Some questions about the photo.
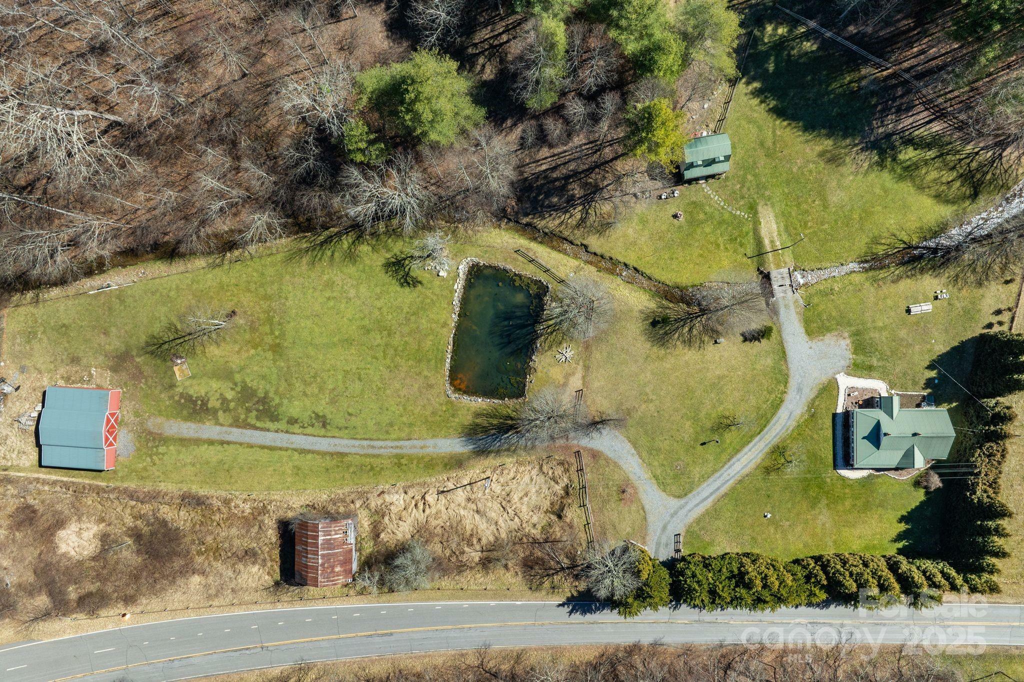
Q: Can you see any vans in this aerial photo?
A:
No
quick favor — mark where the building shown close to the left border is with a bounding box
[39,386,122,470]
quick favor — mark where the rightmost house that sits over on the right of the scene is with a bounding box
[846,396,956,469]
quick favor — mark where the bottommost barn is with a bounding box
[295,517,358,588]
